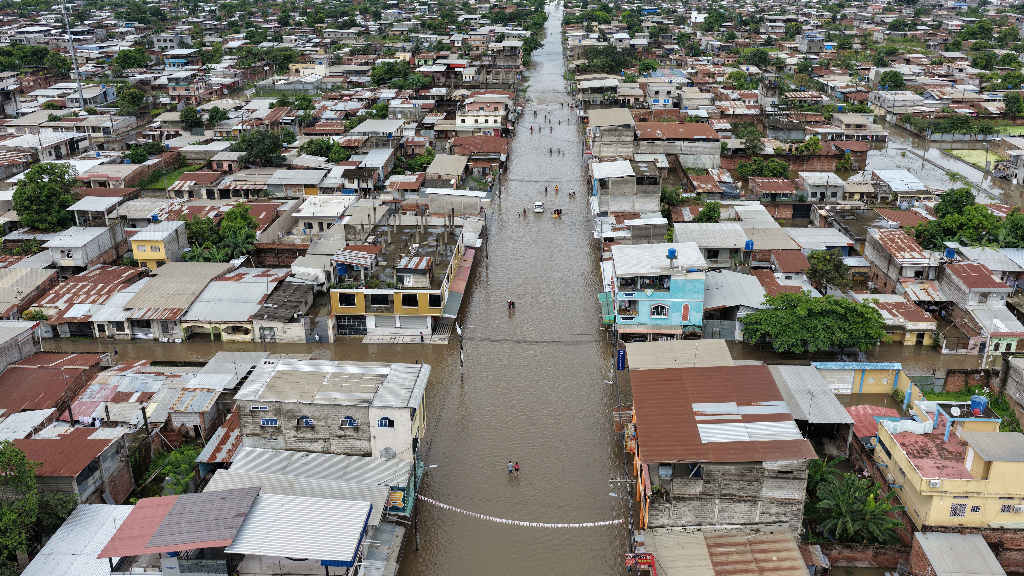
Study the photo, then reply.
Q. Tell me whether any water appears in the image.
Yes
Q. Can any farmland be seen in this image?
No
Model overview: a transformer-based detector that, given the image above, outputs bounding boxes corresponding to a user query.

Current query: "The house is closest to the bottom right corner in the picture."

[911,532,1006,576]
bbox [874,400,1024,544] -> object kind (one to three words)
building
